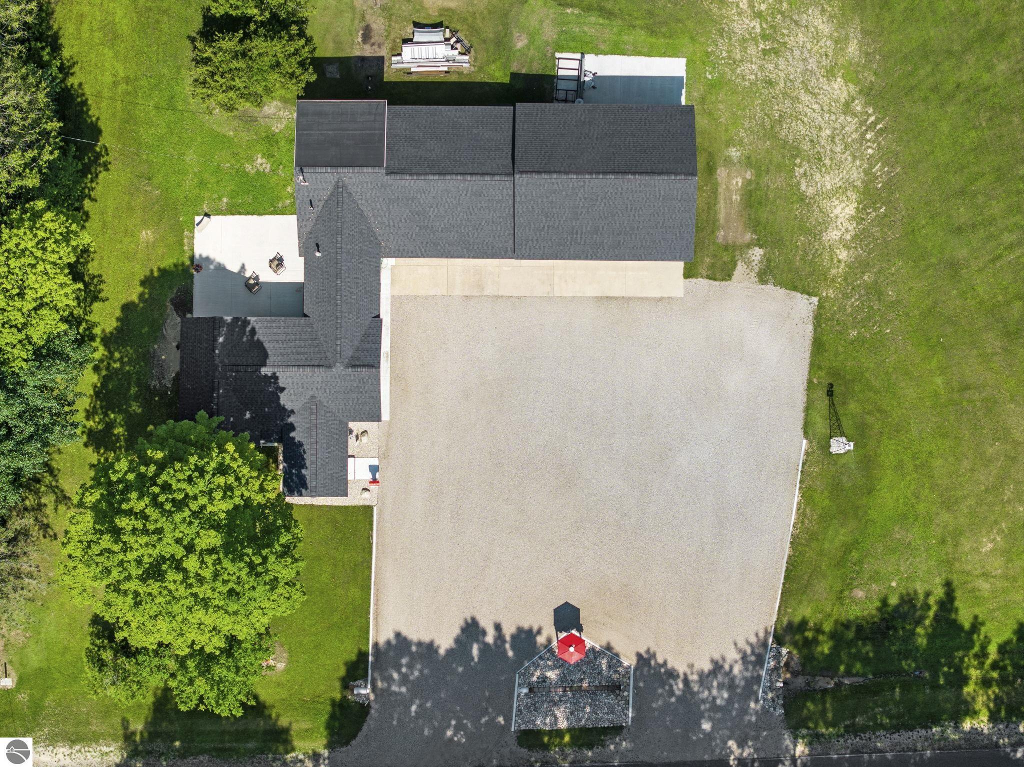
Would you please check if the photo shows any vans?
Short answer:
No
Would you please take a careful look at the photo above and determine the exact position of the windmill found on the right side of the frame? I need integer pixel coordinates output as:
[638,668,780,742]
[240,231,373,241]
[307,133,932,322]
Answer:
[830,437,854,454]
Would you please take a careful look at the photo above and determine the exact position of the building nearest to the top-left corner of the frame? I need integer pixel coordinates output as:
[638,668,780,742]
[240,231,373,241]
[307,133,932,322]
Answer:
[179,99,697,498]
